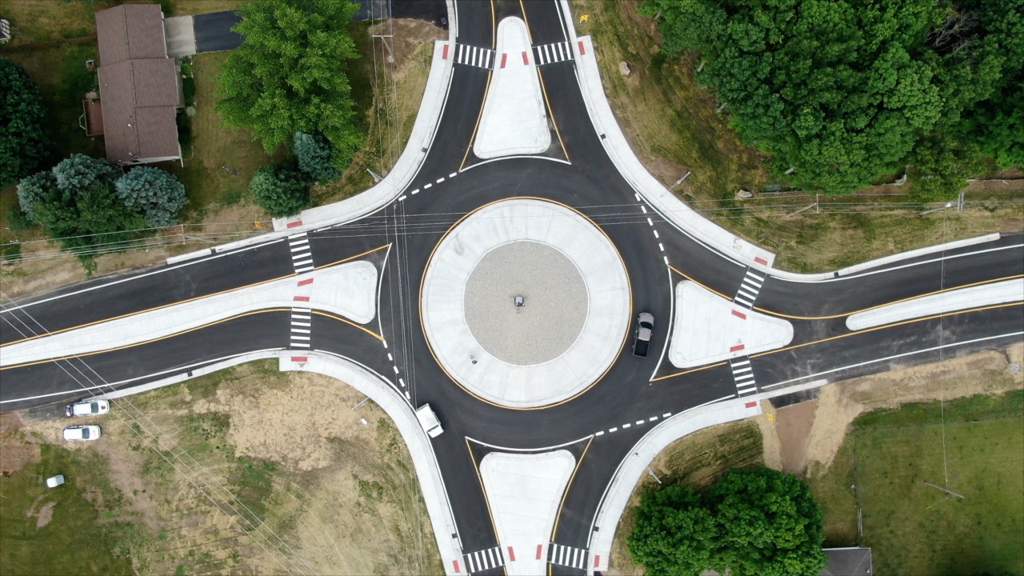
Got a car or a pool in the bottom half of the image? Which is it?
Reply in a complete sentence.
The feature located in the bottom half of the image is a car.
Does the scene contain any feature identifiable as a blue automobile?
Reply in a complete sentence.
No, there appears to be no blue automobile in this shot.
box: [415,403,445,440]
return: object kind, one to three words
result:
van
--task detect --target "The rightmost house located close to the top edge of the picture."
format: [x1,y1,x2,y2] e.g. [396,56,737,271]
[78,3,195,166]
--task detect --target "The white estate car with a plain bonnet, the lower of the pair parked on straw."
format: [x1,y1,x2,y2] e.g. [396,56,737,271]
[63,424,104,442]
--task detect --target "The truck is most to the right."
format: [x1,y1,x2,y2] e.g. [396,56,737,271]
[632,311,654,358]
